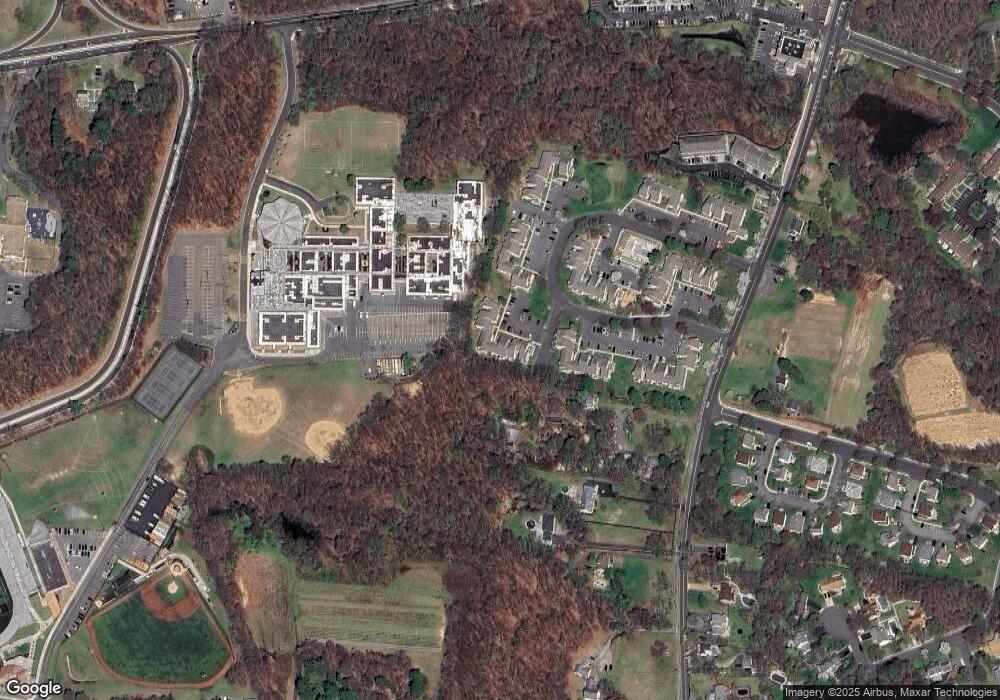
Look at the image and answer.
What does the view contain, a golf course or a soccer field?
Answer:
soccer field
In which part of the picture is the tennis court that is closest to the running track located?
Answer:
left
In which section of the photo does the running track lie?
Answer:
bottom left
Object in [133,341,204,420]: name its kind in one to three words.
tennis court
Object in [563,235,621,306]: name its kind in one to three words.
building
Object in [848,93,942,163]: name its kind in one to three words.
pond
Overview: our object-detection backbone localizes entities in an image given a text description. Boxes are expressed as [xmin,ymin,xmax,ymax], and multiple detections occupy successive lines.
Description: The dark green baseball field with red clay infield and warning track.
[86,560,235,687]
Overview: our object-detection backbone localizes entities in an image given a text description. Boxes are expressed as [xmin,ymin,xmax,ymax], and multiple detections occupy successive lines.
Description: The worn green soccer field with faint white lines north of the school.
[303,119,400,170]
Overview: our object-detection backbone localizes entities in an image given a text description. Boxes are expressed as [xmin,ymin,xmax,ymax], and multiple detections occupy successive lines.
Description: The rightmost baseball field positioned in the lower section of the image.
[306,421,345,462]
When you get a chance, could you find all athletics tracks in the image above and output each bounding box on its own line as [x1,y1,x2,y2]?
[0,488,40,645]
